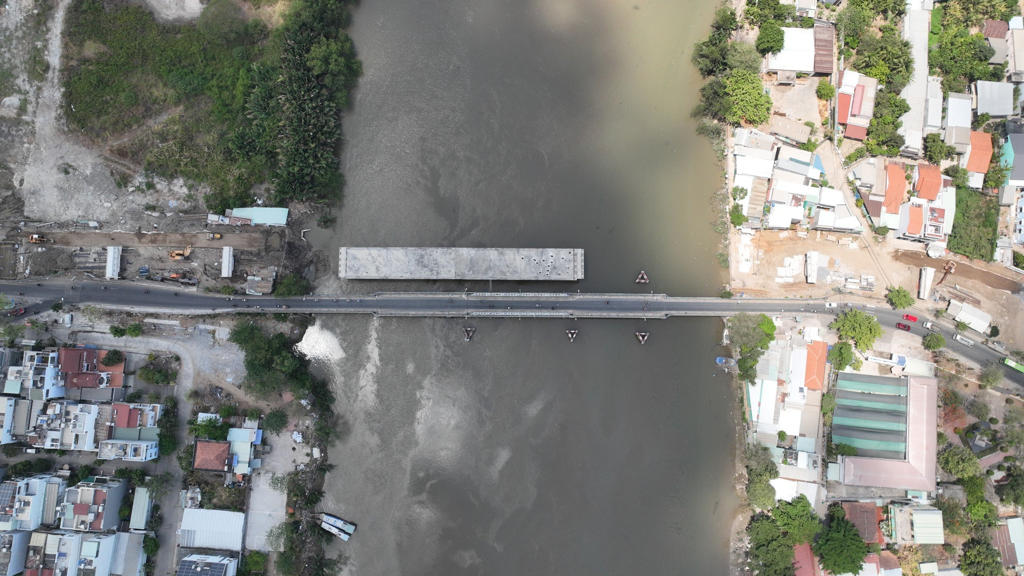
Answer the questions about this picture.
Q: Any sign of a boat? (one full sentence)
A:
Yes, the picture does show a boat.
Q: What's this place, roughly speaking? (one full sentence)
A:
The picture captures a residential area.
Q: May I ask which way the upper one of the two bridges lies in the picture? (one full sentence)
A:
The upper one of the two bridges runs horizontally in the image.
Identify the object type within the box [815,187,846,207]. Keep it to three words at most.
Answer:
house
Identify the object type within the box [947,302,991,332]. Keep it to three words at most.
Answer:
shed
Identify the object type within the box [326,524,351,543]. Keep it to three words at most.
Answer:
boat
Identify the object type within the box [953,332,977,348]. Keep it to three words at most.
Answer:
vehicle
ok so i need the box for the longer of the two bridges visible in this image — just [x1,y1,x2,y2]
[255,291,785,320]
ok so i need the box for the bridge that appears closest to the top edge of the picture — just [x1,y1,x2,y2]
[337,247,584,281]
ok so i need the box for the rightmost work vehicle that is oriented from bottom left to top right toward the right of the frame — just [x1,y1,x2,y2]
[935,258,962,287]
